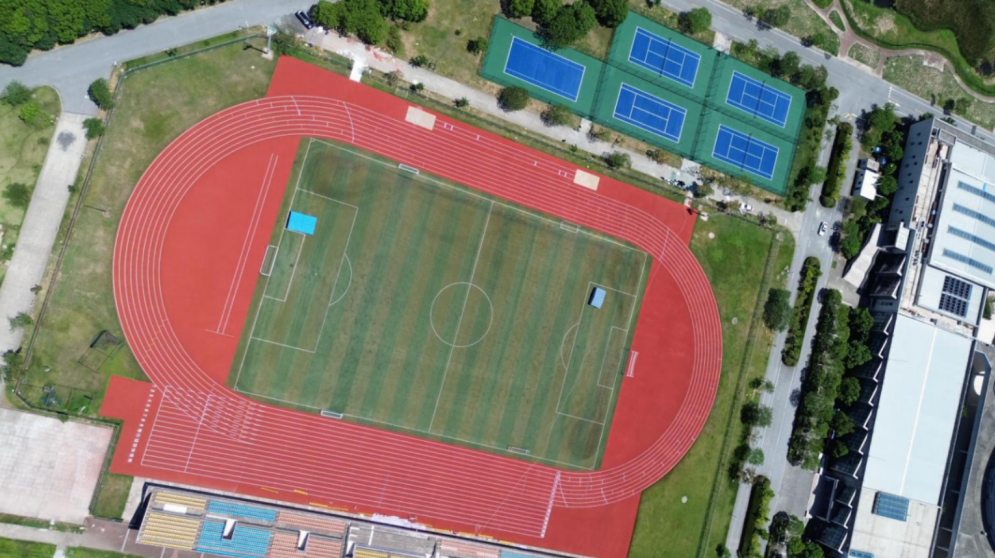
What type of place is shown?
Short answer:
sports ground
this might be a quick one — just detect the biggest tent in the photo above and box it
[287,211,316,234]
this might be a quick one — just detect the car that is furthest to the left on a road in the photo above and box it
[296,11,313,28]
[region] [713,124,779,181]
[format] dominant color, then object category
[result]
blue tennis court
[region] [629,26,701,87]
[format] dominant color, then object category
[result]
blue tennis court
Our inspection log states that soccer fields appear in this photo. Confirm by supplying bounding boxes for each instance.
[226,137,653,471]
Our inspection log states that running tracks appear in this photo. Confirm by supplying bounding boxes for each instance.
[98,52,723,558]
